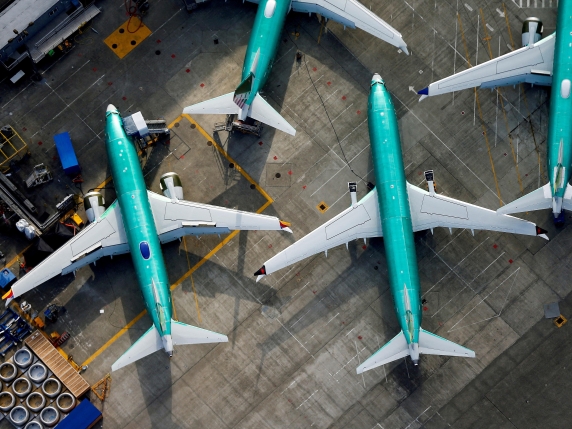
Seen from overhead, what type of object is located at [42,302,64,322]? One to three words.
work vehicle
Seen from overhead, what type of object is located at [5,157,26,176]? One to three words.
work vehicle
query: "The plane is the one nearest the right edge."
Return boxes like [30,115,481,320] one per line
[419,0,572,230]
